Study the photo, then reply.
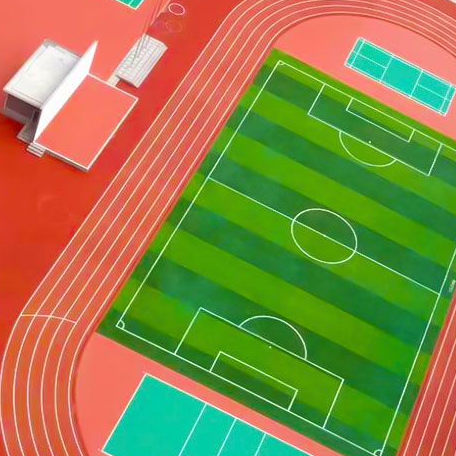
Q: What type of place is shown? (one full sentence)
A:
The picture captures a sports ground.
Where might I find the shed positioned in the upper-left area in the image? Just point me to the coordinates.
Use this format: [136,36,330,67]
[0,37,83,146]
